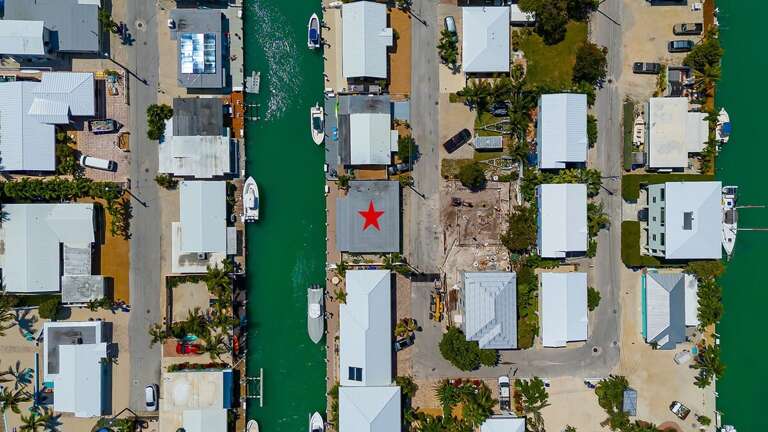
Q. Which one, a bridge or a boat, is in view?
boat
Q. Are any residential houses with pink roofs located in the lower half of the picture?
No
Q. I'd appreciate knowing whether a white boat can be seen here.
Yes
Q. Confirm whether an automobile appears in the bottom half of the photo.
Yes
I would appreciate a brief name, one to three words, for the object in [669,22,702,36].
vehicle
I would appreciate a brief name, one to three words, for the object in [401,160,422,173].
vehicle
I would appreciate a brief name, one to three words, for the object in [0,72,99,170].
house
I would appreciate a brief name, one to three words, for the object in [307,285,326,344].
boat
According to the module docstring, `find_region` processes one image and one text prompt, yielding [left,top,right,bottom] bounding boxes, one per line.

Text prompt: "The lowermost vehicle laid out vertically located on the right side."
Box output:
[498,374,512,410]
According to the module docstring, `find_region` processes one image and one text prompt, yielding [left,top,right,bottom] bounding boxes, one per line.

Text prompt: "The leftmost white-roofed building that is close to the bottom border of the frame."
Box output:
[43,320,106,416]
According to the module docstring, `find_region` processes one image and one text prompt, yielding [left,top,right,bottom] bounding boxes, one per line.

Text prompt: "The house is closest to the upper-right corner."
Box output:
[644,97,710,173]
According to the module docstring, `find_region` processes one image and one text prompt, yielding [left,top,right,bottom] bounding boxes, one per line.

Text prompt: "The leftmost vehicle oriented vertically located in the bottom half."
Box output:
[146,382,160,410]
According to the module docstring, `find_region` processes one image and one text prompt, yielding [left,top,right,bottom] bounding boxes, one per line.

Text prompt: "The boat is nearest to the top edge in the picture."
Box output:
[308,14,326,52]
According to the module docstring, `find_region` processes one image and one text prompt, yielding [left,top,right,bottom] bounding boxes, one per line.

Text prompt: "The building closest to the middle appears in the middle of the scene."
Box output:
[337,181,400,252]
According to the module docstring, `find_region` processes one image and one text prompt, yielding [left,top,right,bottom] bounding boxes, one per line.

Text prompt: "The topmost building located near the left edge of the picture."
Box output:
[0,0,105,56]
